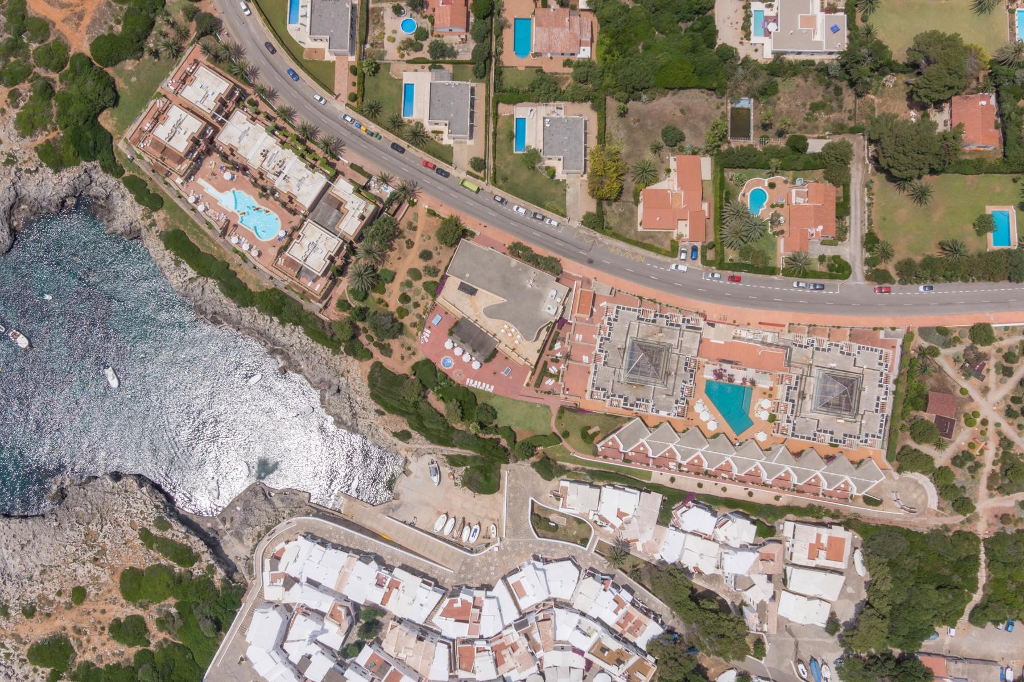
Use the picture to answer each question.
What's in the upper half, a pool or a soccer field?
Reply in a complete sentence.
There is a pool in the upper half.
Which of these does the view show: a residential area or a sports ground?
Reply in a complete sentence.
This image shows a residential area.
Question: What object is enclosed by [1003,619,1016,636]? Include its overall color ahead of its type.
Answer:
blue vehicle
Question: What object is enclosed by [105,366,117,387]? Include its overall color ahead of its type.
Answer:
white boat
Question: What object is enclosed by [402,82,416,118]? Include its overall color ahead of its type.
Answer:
blue swimming pool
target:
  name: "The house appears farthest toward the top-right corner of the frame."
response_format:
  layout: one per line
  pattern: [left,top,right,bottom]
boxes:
[947,92,1000,149]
